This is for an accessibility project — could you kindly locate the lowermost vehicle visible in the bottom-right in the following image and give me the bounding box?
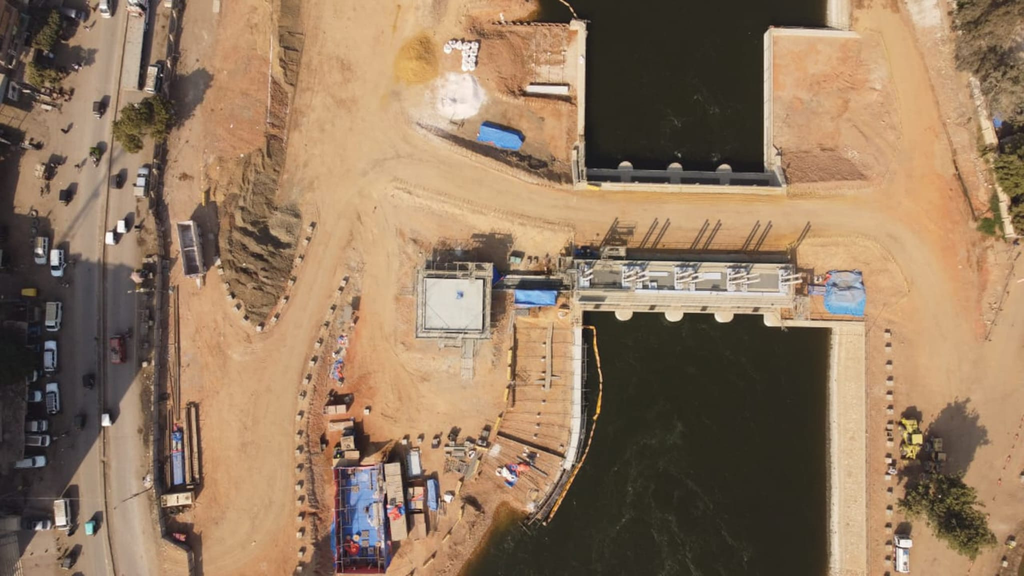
[888,527,914,576]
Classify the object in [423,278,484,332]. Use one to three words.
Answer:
building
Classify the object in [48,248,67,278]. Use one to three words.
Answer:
car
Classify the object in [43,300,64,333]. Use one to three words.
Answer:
vehicle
